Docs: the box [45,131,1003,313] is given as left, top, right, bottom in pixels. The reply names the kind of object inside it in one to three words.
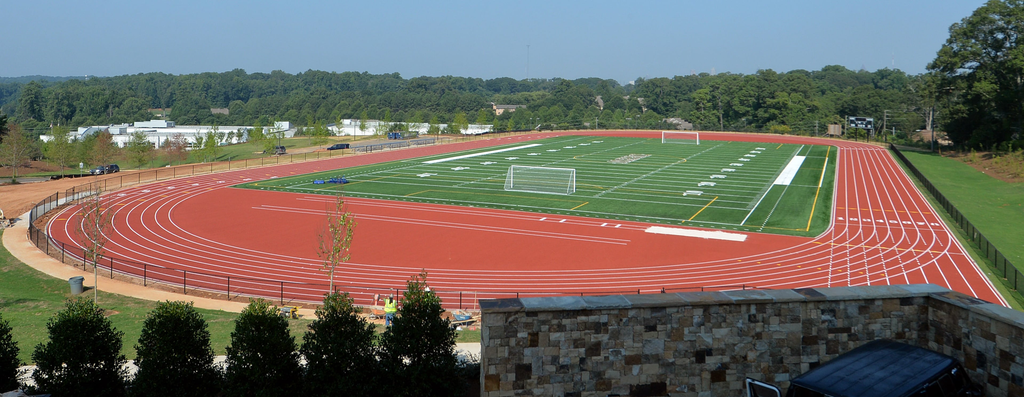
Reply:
running track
